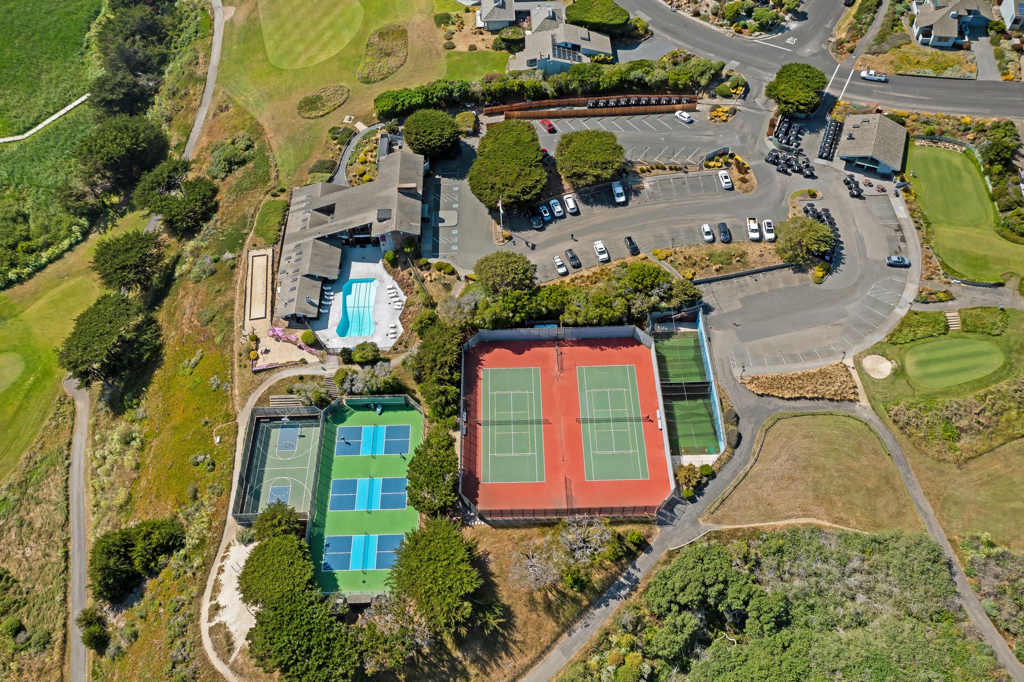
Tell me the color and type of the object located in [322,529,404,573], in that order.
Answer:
blue sports court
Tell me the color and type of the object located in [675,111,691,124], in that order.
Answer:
white vehicle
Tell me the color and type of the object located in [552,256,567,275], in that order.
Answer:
white car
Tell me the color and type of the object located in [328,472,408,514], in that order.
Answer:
blue sports court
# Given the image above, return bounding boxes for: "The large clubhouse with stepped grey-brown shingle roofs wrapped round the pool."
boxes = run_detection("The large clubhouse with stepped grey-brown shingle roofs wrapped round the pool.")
[277,130,430,324]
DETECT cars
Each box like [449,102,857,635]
[524,207,542,228]
[538,205,550,221]
[624,235,639,254]
[886,256,910,268]
[552,256,567,275]
[565,249,580,268]
[675,111,691,124]
[718,171,731,188]
[549,200,563,217]
[540,119,556,133]
[564,195,577,213]
[700,223,713,242]
[717,223,731,242]
[612,181,626,203]
[747,216,760,239]
[593,241,608,261]
[761,220,775,239]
